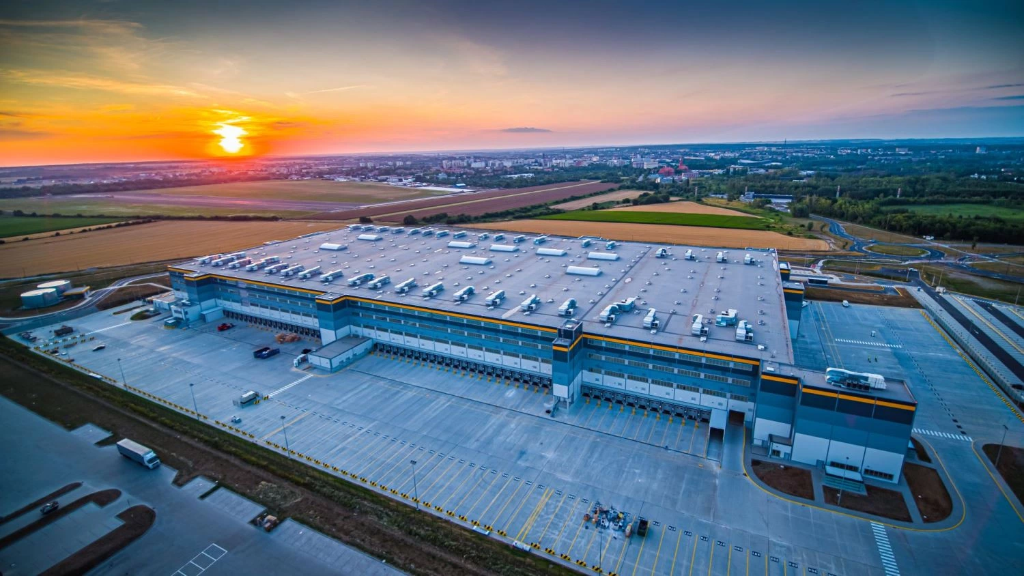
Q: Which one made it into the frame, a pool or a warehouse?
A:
warehouse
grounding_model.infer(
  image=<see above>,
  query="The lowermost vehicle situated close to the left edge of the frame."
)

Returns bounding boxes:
[32,501,63,515]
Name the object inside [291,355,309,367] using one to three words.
vehicle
